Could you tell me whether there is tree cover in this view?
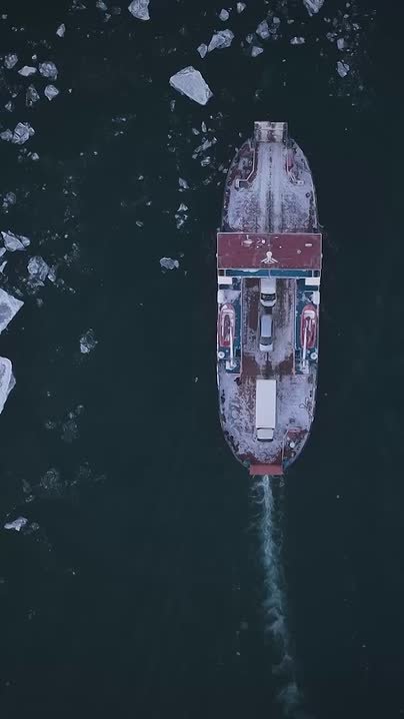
No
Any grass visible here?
No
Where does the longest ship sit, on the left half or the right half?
right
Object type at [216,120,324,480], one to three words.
ship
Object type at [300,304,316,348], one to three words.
boat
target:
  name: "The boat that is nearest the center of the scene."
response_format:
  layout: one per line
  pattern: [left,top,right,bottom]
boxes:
[220,303,235,346]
